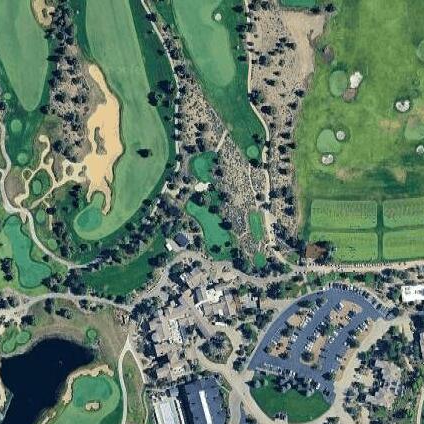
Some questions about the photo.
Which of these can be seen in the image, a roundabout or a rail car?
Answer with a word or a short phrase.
roundabout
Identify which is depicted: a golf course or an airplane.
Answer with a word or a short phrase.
golf course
